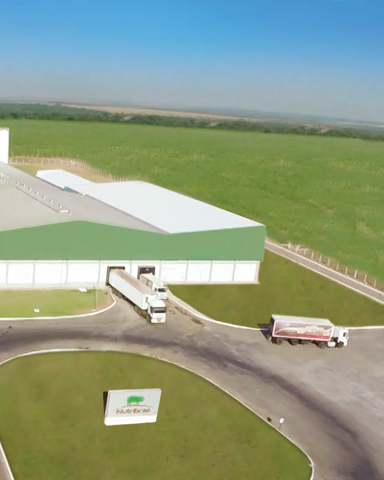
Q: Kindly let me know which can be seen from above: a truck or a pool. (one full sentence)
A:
I can see a truck in this picture.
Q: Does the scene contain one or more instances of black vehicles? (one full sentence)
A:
No, no black vehicle is visible in the scene.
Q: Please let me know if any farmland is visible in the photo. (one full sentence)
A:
Yes, some farmland is visible.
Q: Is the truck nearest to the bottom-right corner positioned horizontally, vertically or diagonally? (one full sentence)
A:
The truck nearest to the bottom-right corner runs horizontally in the image.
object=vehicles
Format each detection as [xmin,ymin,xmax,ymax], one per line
[270,313,352,348]
[141,270,179,301]
[111,266,173,319]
